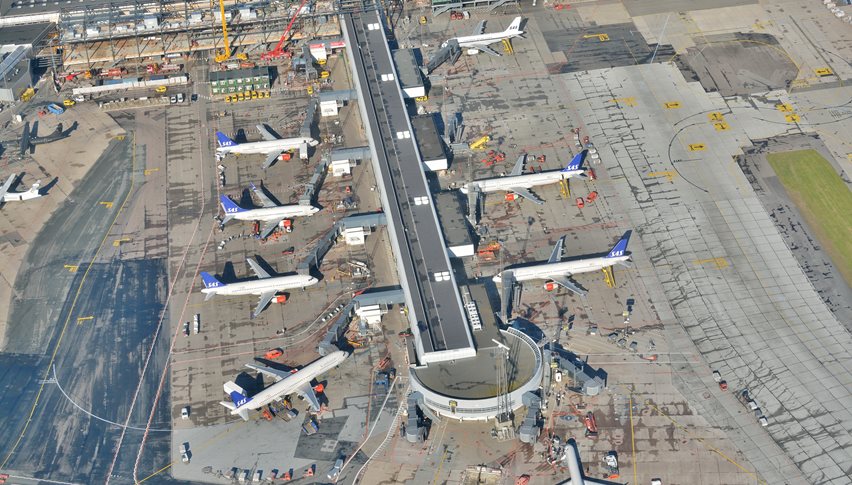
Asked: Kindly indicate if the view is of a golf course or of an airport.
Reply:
airport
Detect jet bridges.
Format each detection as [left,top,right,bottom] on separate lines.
[317,294,364,359]
[404,388,424,449]
[545,345,607,403]
[517,386,542,449]
[300,94,330,139]
[300,151,339,207]
[299,220,349,275]
[500,266,518,326]
[300,43,319,89]
[422,40,461,84]
[467,181,483,239]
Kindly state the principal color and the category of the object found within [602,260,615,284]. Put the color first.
yellow vehicle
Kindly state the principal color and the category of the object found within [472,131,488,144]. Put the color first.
yellow vehicle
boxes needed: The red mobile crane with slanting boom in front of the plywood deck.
[261,0,307,64]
